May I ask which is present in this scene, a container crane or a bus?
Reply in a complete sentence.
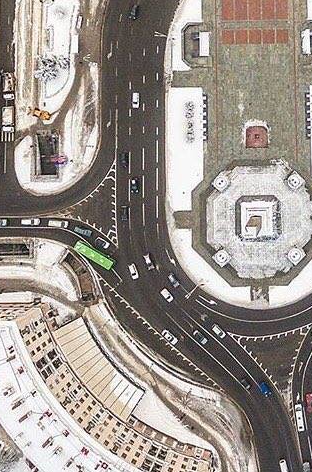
The image shows a bus.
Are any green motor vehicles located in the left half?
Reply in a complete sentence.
Yes, a green motor vehicle shows up in the left half.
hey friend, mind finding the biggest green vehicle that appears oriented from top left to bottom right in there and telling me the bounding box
[70,241,114,274]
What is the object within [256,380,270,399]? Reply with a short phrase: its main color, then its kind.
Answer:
blue vehicle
